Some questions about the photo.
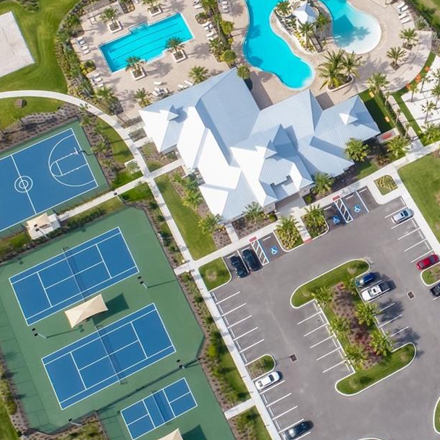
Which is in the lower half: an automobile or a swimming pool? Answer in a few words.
automobile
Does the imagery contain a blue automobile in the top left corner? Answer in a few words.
No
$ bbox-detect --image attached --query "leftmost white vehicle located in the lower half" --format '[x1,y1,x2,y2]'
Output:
[256,371,279,389]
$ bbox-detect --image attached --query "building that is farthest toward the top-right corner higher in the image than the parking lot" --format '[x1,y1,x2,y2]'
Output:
[294,5,317,35]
